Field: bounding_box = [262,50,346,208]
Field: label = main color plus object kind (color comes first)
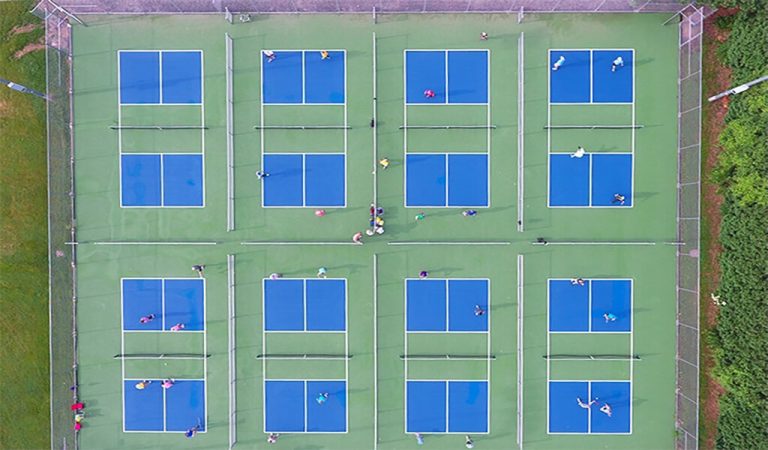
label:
blue sports court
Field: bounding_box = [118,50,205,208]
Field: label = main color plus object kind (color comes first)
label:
blue sports court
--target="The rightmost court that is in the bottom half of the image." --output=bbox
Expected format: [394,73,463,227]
[548,278,633,434]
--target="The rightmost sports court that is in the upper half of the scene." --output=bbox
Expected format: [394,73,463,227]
[548,49,634,208]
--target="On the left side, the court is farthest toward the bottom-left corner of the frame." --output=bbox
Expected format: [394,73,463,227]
[122,278,206,433]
